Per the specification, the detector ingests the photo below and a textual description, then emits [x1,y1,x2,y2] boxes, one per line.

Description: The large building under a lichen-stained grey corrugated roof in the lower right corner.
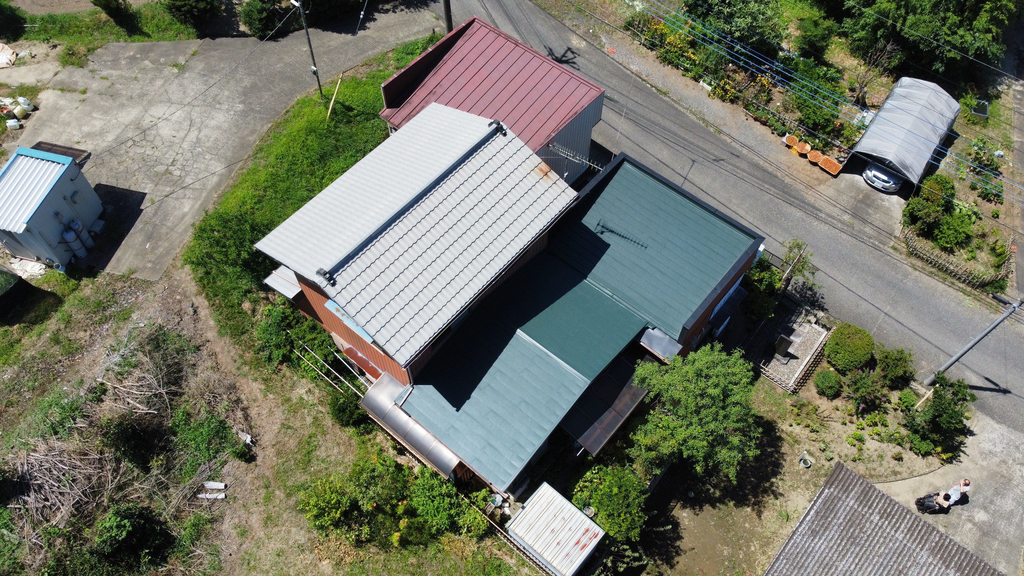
[760,458,1010,576]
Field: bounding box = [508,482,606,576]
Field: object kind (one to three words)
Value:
shed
